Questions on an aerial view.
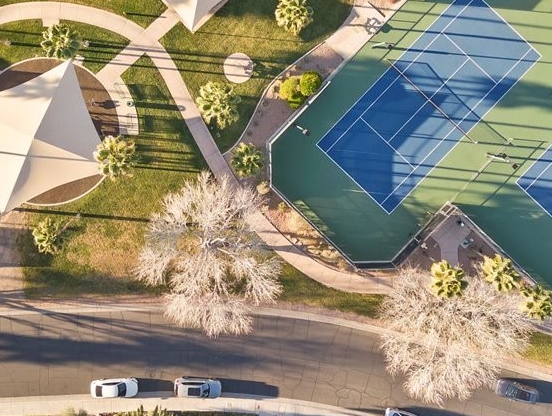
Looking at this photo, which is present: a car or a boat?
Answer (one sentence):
There is a car in the scene.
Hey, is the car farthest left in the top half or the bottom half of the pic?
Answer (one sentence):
You can find the car farthest left in the bottom half.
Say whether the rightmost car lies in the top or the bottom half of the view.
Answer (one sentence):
The rightmost car is in the bottom half of the image.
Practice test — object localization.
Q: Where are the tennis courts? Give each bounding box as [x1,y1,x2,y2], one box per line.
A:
[452,98,552,295]
[272,0,552,262]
